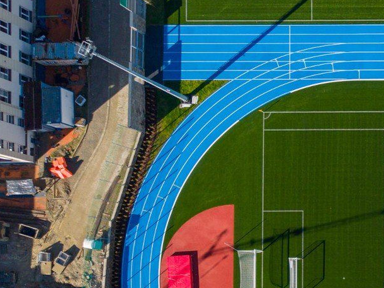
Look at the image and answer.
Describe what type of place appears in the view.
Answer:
sports ground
